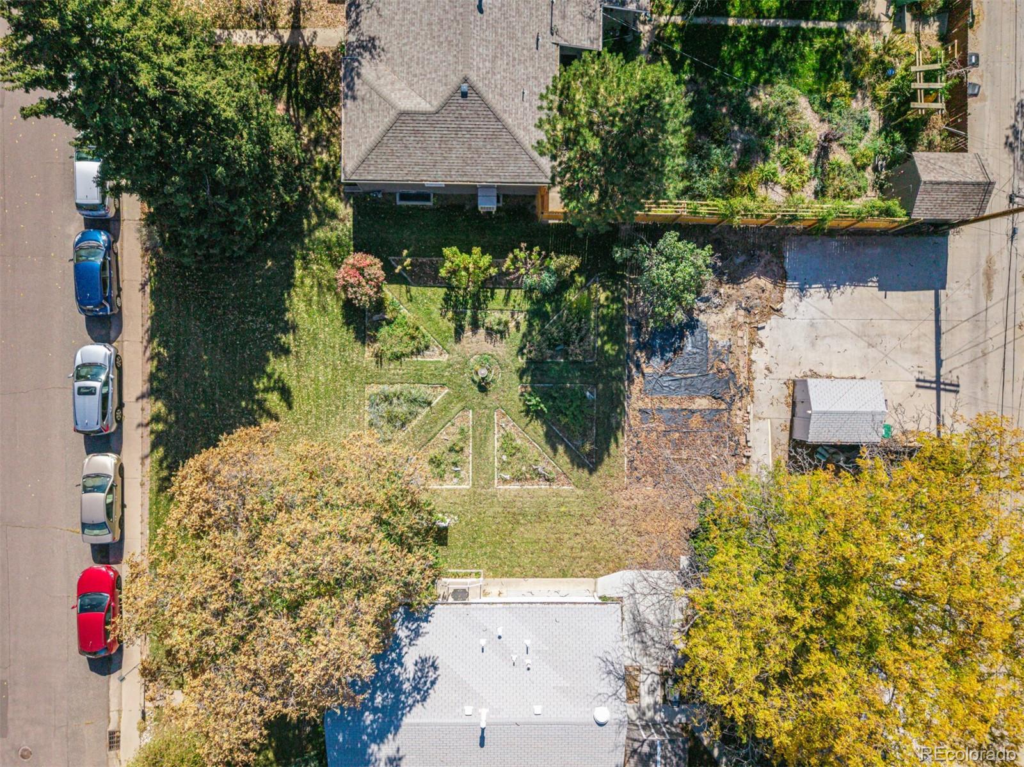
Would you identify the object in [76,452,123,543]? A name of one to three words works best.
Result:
car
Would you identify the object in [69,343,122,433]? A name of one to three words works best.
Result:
car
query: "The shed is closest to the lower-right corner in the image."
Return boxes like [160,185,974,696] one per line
[791,378,890,443]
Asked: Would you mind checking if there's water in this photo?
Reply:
No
